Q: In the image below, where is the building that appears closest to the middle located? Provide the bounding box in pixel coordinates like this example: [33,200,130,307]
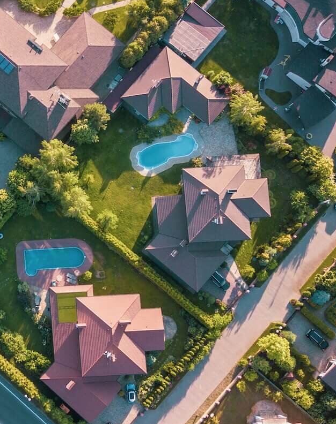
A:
[145,158,271,291]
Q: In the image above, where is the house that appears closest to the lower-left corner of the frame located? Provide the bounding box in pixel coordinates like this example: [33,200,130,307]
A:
[39,284,164,422]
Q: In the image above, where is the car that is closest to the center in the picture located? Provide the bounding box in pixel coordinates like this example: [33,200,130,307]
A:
[209,268,232,292]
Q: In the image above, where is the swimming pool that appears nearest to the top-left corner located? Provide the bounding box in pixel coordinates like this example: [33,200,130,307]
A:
[136,132,199,171]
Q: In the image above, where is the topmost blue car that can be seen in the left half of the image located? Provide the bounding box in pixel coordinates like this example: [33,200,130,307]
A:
[125,383,137,404]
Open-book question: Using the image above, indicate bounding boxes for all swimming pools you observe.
[23,246,88,277]
[136,132,199,171]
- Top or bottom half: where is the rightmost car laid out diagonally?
bottom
